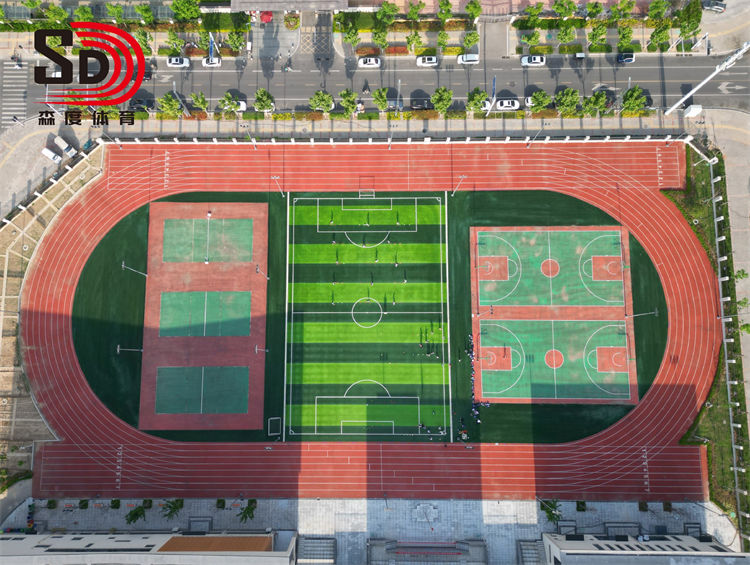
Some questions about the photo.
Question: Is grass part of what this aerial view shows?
Yes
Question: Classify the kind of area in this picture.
sports ground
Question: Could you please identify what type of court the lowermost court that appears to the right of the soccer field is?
basketball court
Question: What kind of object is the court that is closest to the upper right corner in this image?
basketball court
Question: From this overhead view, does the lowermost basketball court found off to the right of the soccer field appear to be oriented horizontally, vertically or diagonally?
horizontally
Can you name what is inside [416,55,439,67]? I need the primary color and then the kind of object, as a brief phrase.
white vehicle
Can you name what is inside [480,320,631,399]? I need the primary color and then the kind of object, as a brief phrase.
green basketball court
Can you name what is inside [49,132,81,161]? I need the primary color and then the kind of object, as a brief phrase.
white truck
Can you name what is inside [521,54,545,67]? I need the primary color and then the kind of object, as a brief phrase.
white vehicle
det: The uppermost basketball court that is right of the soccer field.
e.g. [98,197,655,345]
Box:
[478,231,625,306]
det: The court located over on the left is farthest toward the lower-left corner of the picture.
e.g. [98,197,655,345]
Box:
[156,366,249,413]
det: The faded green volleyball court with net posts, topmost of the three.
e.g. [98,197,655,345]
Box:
[163,218,253,262]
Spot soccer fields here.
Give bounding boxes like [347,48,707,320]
[284,191,452,445]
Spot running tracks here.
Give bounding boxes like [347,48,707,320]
[17,141,723,501]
